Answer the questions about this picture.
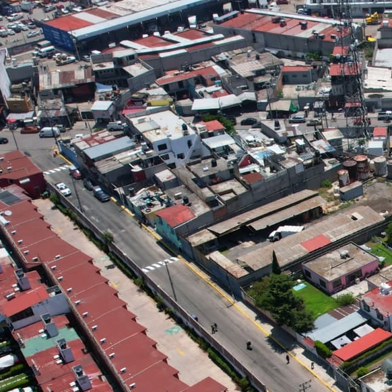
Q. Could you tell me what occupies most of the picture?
buildings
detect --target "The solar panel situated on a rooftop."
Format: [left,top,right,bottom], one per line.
[0,185,24,205]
